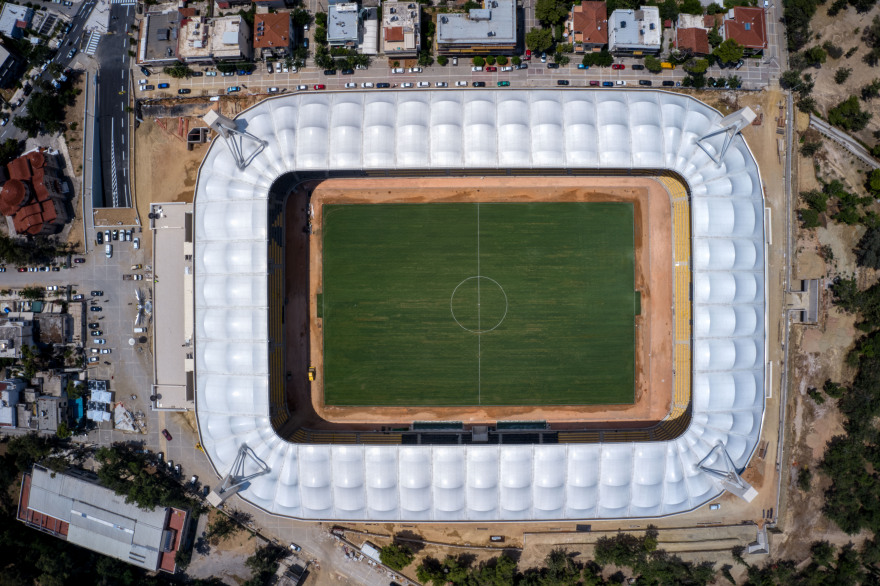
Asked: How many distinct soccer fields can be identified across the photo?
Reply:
1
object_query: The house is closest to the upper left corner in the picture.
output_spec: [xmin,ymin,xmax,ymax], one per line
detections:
[0,2,46,46]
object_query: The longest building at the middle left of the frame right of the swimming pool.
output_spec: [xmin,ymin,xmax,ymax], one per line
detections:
[150,203,195,411]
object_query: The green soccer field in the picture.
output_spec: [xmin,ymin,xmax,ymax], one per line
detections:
[317,202,641,406]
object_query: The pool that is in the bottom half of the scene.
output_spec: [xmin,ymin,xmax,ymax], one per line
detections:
[68,396,84,421]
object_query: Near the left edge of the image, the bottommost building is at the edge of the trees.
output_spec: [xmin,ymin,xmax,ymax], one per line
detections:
[15,459,195,574]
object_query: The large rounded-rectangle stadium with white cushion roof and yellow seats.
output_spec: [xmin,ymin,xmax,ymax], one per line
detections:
[193,90,767,520]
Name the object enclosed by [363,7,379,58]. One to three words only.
shed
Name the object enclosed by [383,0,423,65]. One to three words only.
house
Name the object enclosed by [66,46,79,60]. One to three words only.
vehicle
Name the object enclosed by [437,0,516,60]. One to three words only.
building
